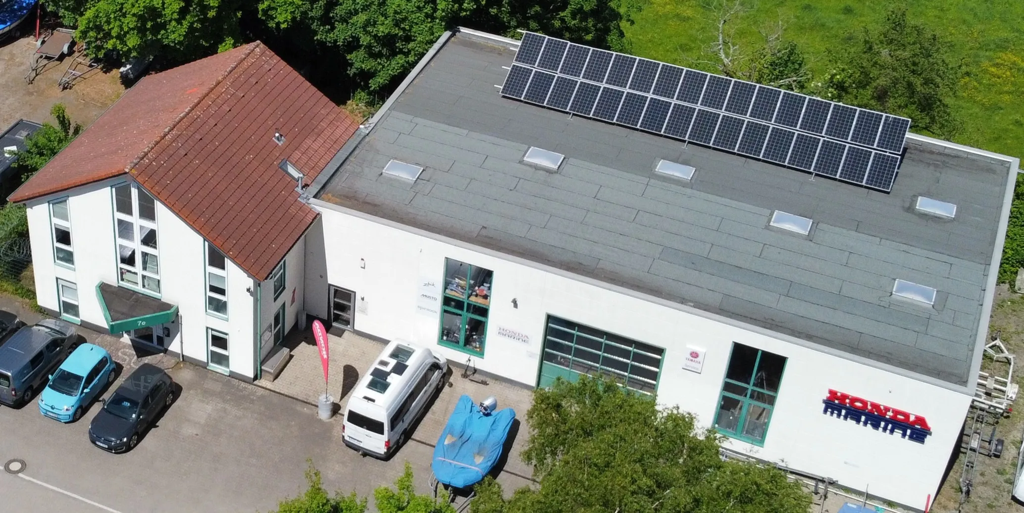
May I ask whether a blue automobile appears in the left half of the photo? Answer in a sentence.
Yes, a blue automobile is visible in the left half of the photo.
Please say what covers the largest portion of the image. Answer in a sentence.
What you mostly see from above here is buildings.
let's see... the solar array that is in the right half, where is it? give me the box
[489,34,910,196]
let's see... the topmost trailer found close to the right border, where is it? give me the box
[966,326,1024,428]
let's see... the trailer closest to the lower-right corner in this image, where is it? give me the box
[951,401,1011,499]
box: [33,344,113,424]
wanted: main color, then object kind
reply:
blue car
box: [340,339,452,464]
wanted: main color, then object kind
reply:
white van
